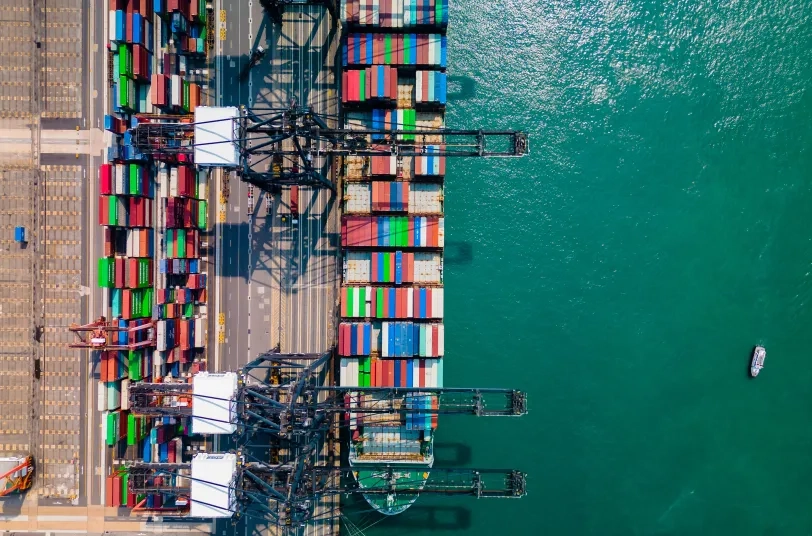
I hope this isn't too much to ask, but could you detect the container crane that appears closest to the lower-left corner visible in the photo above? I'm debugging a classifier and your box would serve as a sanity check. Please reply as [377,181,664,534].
[0,456,33,504]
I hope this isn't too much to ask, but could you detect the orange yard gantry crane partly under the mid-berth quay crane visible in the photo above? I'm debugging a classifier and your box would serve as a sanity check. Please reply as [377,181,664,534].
[132,106,195,142]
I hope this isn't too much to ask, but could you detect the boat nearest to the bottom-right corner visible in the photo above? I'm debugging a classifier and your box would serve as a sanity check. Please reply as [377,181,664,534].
[753,346,770,378]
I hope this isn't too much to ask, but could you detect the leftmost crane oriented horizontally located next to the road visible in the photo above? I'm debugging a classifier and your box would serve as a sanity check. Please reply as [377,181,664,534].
[72,318,158,350]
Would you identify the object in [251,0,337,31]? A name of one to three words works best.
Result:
container crane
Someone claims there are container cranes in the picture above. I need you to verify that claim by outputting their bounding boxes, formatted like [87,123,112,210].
[132,477,195,512]
[130,345,527,435]
[0,456,33,504]
[130,106,527,196]
[132,106,195,142]
[72,318,158,350]
[129,412,527,526]
[251,0,337,31]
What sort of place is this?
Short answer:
port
